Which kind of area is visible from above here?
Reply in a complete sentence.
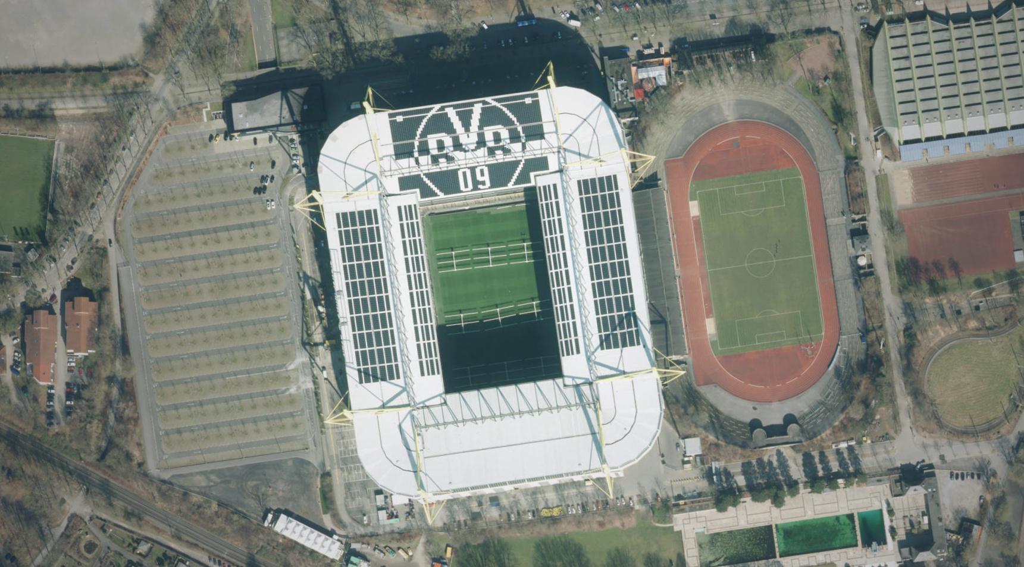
It's a sports ground.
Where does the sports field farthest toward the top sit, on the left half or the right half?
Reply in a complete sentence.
The sports field farthest toward the top is on the left side of the image.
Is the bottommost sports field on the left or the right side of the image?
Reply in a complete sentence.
It is on the right.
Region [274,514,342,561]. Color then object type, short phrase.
white tent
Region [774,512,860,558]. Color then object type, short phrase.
green swimming pool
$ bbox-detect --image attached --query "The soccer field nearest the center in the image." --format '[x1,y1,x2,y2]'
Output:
[421,199,563,393]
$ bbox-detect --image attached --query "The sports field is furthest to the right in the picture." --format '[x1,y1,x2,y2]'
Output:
[914,306,1024,442]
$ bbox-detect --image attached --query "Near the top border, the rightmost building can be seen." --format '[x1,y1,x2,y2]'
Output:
[873,2,1024,163]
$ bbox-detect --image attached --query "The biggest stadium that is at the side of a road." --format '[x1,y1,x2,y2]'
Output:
[294,60,686,525]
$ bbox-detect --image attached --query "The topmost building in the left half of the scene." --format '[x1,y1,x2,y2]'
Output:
[230,86,329,138]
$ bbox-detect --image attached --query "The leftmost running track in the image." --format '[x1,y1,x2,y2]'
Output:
[668,119,839,403]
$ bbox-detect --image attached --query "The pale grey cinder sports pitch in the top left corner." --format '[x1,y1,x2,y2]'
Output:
[0,0,154,68]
